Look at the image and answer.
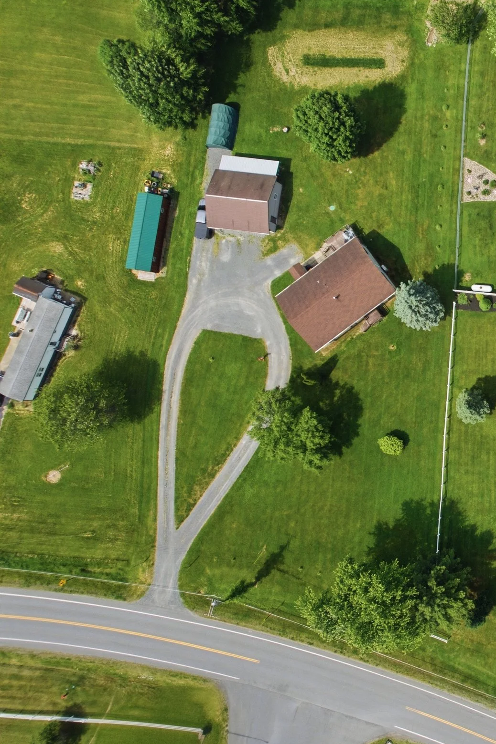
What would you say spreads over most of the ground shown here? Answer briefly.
grass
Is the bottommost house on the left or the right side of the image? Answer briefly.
left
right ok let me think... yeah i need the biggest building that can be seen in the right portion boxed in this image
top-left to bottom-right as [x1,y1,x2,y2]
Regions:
[274,224,397,352]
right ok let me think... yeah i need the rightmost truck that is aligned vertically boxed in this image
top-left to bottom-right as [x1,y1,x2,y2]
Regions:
[193,198,215,240]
